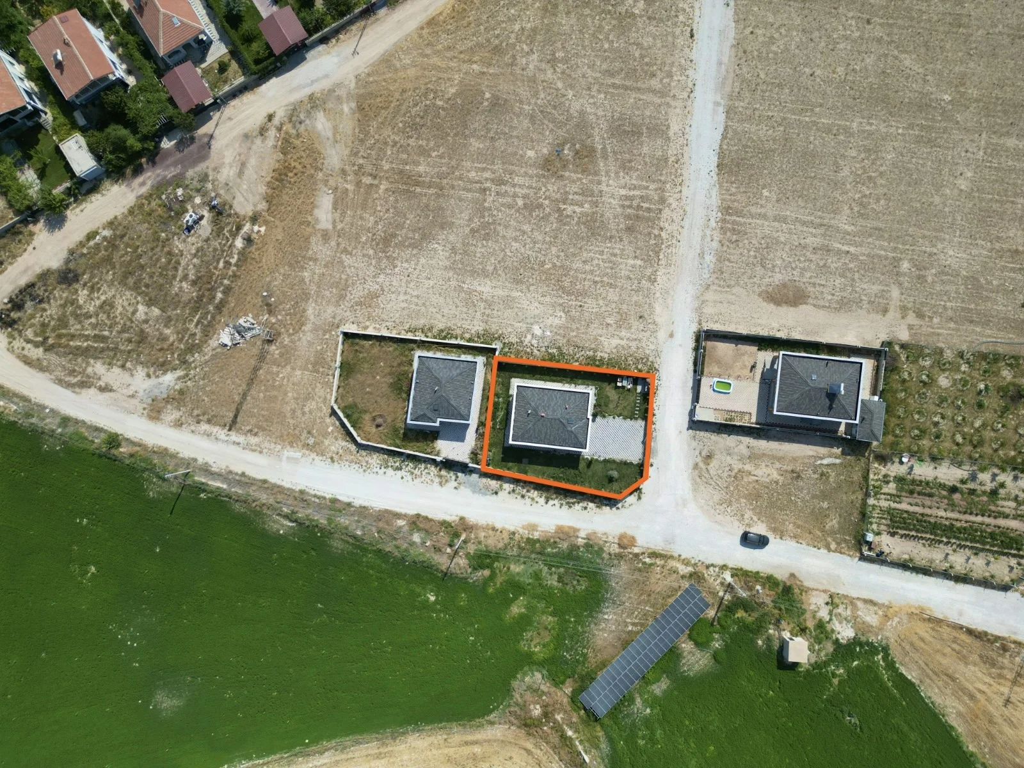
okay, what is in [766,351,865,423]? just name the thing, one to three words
house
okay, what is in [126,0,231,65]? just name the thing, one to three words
house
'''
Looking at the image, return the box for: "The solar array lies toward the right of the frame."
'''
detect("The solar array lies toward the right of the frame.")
[579,583,712,719]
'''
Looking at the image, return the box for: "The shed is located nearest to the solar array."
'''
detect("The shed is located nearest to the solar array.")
[783,636,813,663]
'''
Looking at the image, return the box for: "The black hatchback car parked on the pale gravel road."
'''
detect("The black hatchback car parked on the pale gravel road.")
[740,533,769,550]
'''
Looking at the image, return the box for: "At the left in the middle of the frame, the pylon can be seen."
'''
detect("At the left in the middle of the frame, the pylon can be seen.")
[224,329,276,343]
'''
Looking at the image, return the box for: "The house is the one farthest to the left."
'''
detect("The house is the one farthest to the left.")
[0,44,43,137]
